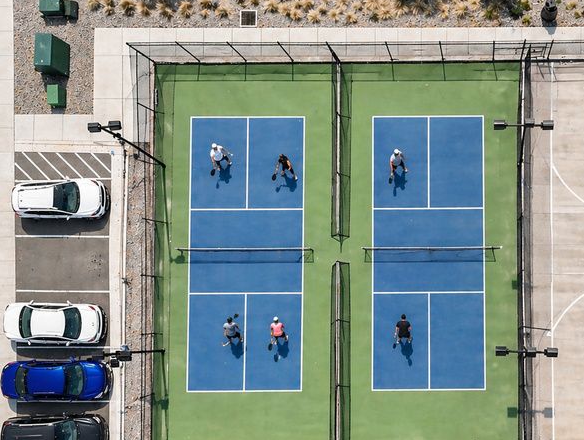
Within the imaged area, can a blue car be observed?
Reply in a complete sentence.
Yes, there's a blue car here.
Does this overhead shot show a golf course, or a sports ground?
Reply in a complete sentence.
This looks like a sports ground.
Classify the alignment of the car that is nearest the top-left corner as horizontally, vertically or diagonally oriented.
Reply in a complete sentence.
The car that is nearest the top-left corner has been laid out horizontally relative to the frame.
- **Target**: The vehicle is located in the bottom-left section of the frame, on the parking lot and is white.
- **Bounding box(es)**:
[4,300,109,347]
